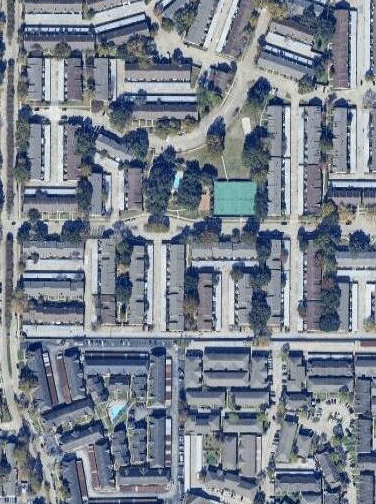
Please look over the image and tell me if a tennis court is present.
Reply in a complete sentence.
Yes, a tennis court can be made out from above.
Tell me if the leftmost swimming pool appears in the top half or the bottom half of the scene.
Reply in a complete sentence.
The leftmost swimming pool sits in the bottom half of the picture.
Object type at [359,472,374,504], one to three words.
building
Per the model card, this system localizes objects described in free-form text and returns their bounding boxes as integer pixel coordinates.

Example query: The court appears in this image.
[213,181,255,216]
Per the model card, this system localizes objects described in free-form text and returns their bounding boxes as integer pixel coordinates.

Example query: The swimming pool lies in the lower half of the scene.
[104,401,129,422]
